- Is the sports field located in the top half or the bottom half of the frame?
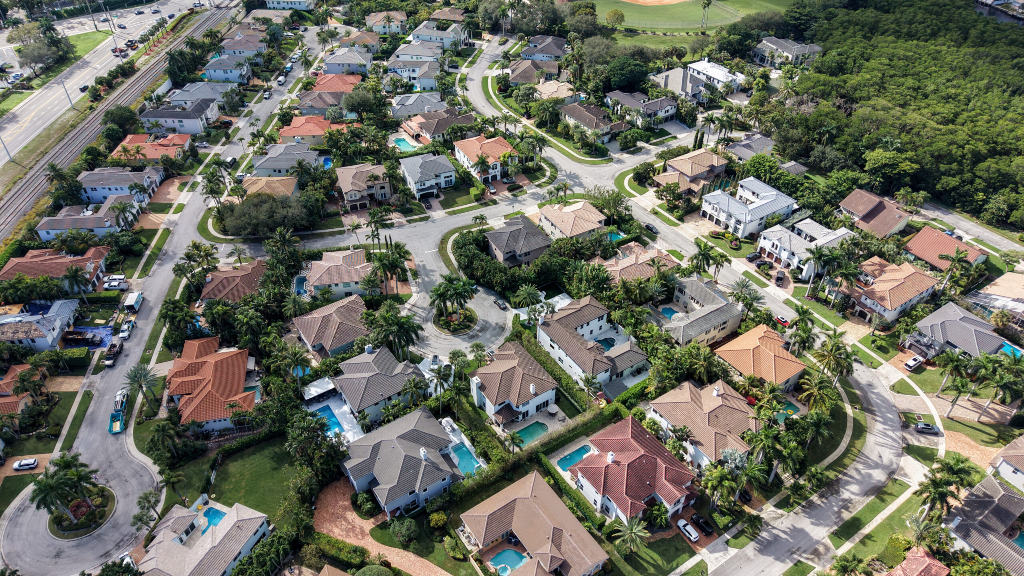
top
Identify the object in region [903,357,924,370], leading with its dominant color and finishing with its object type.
white vehicle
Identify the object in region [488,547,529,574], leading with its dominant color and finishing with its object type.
blue swimming pool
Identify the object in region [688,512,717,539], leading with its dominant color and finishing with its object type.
black truck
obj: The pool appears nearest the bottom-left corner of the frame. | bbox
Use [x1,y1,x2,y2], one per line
[199,504,227,536]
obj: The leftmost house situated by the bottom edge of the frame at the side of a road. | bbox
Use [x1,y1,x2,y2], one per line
[136,501,268,576]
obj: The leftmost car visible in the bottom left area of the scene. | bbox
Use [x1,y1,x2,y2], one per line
[12,456,39,471]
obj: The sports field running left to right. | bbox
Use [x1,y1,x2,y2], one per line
[565,0,784,67]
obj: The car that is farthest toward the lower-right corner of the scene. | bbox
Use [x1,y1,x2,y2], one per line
[914,421,940,435]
